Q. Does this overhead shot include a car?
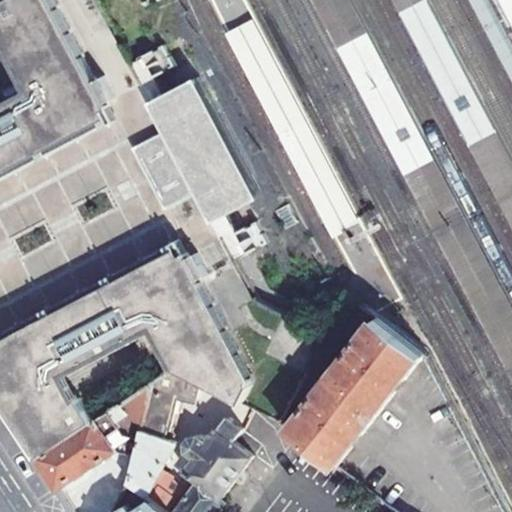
Yes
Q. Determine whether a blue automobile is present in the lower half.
No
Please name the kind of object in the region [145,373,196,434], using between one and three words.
building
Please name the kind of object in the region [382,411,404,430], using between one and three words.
car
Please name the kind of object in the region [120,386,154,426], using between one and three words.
shed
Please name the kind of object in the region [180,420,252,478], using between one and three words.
house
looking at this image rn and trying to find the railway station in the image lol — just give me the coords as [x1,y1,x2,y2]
[214,0,512,379]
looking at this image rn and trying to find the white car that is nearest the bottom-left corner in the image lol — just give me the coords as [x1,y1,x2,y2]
[15,456,33,478]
